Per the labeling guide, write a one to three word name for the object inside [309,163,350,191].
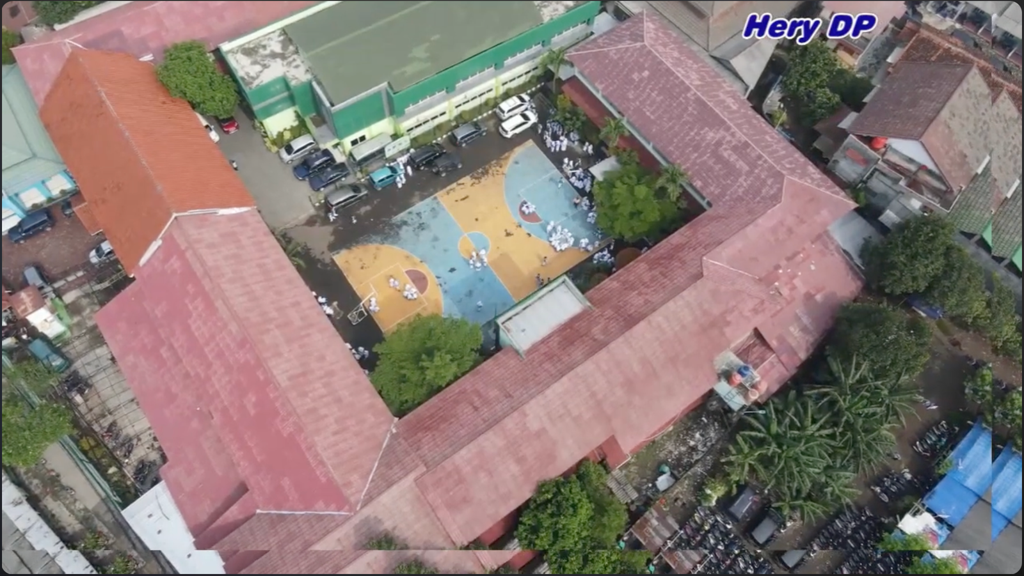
car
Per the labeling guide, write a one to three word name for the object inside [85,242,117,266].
car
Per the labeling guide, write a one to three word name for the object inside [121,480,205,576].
shed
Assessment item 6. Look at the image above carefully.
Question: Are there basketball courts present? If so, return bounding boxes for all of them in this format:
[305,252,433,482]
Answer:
[330,140,614,339]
